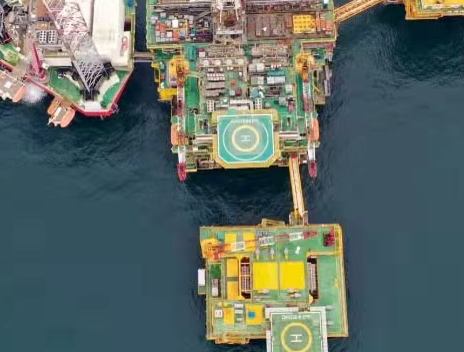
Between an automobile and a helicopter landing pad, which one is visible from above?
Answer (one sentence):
This aerial view contains a helicopter landing pad.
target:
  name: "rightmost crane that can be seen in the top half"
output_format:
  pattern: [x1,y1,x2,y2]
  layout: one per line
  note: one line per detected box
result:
[296,48,316,180]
